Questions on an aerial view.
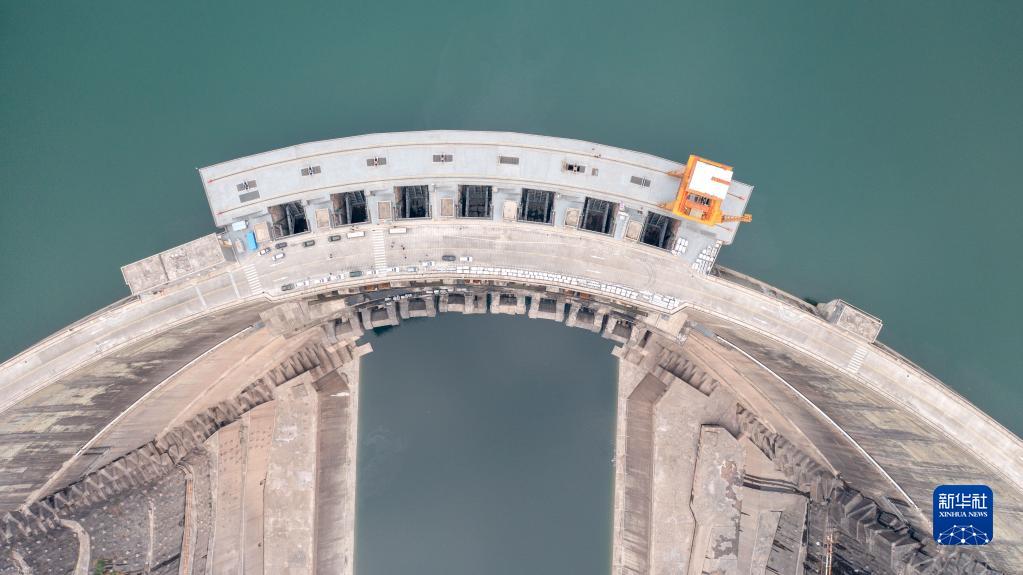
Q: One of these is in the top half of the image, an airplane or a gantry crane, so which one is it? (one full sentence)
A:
What appears in the top half of the image is a gantry crane.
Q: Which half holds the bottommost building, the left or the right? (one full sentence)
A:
The bottommost building sits on the right side.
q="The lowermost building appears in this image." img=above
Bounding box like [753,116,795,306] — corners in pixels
[822,299,883,343]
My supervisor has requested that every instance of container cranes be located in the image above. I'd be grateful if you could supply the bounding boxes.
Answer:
[650,155,751,223]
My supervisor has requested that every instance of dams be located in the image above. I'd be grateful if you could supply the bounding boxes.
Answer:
[0,223,1023,575]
